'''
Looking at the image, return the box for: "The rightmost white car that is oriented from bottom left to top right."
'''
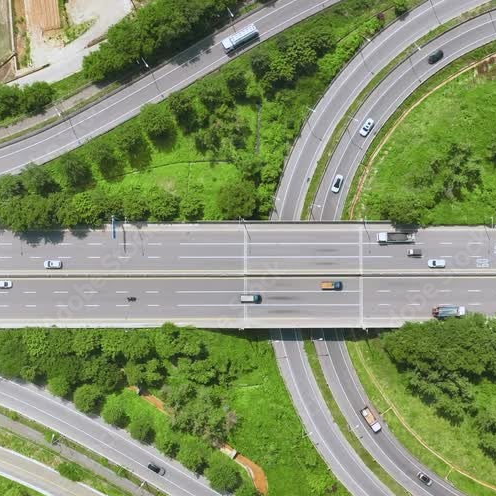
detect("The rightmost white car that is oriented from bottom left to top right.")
[360,118,373,135]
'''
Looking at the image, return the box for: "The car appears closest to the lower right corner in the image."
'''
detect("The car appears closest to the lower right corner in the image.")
[417,473,433,486]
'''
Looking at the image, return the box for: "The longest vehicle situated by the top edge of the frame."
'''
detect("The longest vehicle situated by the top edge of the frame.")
[222,23,257,50]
